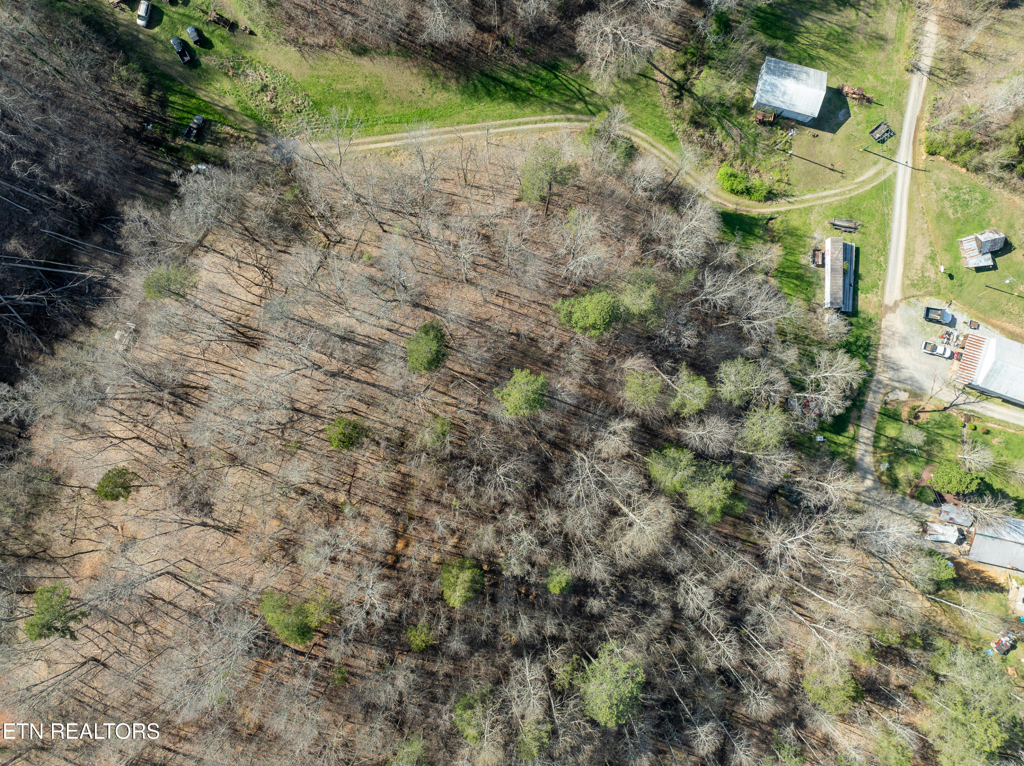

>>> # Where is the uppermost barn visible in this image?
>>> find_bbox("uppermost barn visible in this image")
[752,57,828,122]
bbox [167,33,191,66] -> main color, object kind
black truck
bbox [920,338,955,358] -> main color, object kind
white vehicle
